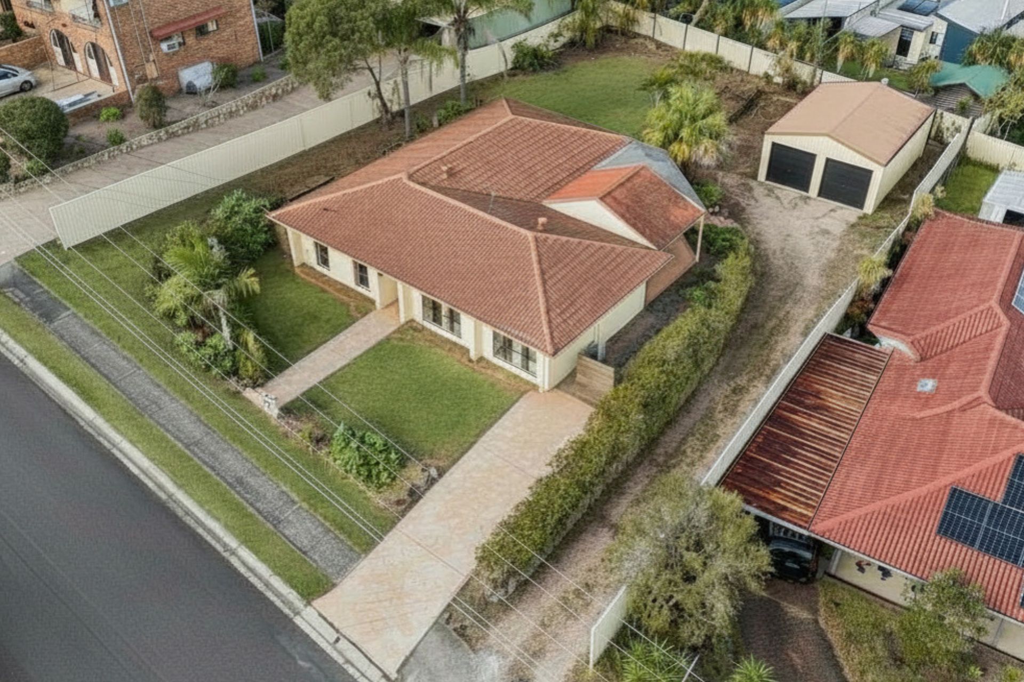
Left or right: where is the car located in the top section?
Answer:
left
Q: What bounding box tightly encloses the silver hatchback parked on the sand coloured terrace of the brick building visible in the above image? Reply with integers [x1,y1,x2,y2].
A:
[0,68,45,94]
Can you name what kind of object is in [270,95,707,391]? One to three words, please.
house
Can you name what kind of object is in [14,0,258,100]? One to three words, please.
building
